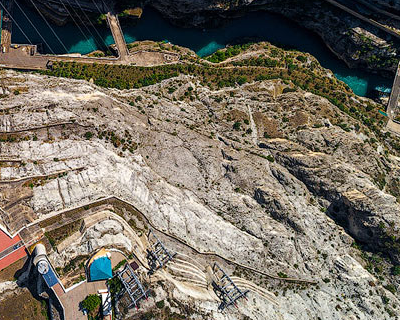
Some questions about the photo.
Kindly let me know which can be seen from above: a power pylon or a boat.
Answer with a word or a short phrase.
power pylon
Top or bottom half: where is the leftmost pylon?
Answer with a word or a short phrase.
bottom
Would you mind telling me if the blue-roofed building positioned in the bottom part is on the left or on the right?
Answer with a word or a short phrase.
left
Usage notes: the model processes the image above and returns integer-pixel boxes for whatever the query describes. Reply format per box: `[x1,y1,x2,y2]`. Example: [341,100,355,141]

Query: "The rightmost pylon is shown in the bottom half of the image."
[208,263,251,309]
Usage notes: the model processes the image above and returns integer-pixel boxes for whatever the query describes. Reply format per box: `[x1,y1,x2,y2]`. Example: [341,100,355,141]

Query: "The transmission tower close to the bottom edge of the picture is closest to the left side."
[120,266,152,311]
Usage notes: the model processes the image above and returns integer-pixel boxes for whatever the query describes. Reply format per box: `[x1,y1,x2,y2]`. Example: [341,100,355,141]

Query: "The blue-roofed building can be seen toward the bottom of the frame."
[88,250,112,280]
